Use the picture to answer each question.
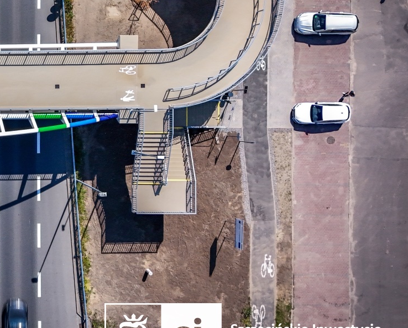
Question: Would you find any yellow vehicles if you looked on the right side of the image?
No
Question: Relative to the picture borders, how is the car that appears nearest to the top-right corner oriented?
horizontally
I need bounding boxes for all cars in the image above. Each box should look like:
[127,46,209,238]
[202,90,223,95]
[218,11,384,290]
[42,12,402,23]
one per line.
[297,8,359,36]
[2,301,30,328]
[292,99,348,126]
